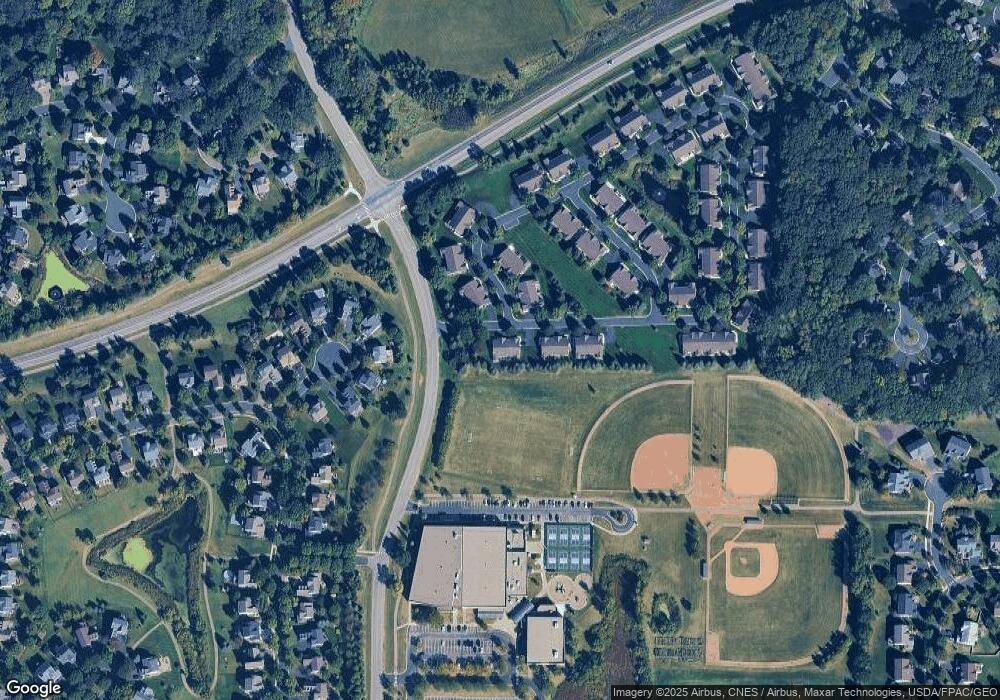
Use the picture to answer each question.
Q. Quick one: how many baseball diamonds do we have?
3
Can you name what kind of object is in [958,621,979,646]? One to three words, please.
house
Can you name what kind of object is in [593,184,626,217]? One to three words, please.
house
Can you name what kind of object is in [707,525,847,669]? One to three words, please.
baseball field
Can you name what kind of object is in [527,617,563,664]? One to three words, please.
building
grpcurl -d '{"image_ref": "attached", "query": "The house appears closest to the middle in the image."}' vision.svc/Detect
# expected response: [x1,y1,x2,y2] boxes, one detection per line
[492,337,521,361]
